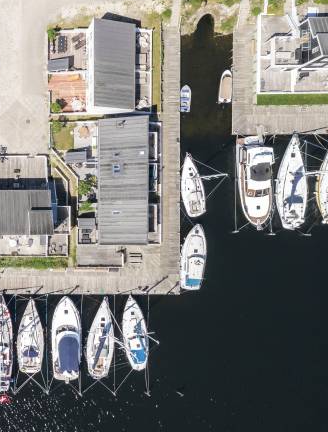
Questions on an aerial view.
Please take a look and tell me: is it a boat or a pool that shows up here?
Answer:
boat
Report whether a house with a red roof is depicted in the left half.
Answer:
No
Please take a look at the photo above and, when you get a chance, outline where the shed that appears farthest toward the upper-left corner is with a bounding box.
[47,57,69,73]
